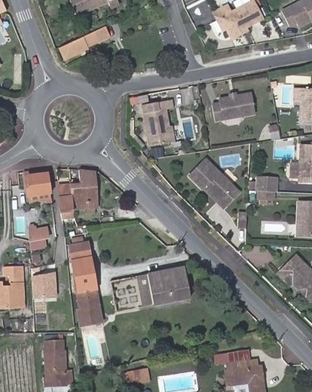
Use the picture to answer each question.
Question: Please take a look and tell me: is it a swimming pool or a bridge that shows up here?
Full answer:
The one in the frame is a swimming pool.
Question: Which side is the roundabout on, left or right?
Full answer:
The roundabout appears in the left half of the scene.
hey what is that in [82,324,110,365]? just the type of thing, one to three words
swimming pool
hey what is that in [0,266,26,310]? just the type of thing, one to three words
house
